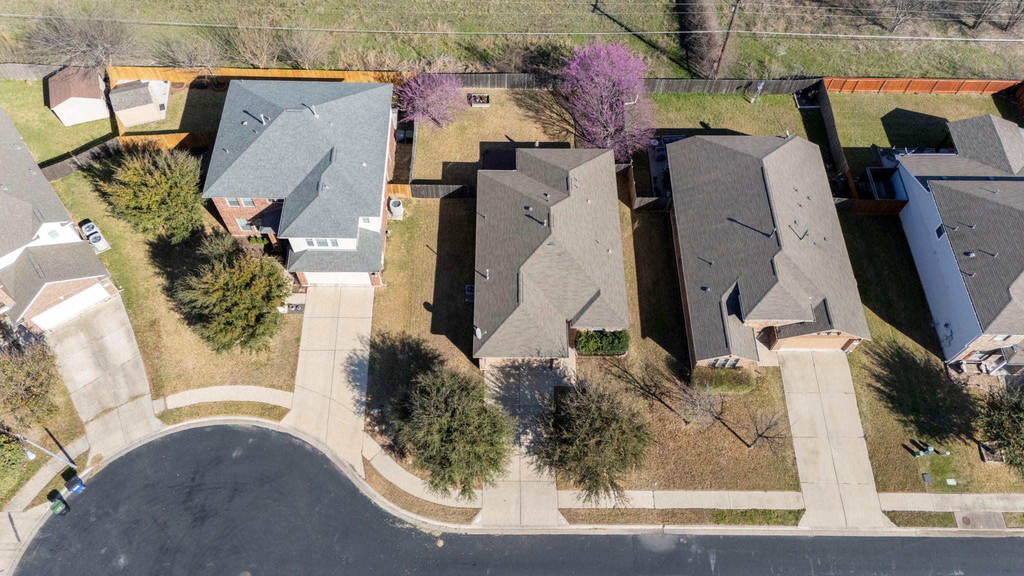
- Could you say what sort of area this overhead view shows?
residential area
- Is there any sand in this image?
No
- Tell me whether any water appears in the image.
No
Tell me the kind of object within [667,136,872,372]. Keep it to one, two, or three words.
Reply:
house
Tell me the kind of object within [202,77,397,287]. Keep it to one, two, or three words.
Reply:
house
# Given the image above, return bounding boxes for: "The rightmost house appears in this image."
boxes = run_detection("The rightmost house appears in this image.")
[889,114,1024,376]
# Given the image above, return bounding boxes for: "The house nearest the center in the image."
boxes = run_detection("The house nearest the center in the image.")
[472,148,630,374]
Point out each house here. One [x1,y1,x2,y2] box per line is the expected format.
[202,77,397,287]
[889,114,1024,376]
[472,148,630,374]
[667,136,872,372]
[0,98,130,338]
